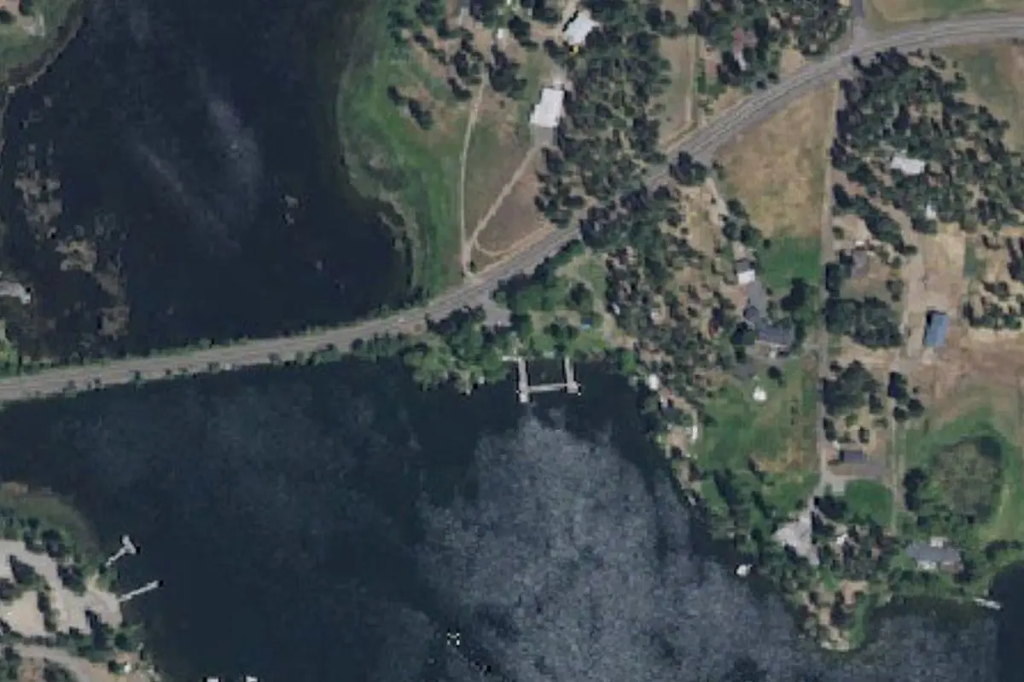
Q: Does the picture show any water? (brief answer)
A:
Yes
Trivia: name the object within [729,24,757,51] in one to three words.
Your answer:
house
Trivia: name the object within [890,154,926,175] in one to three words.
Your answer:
house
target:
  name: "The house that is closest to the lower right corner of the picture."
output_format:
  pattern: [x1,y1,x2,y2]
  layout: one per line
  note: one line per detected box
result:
[907,536,962,577]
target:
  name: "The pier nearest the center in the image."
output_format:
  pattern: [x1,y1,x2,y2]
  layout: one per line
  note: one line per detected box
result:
[503,356,581,401]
